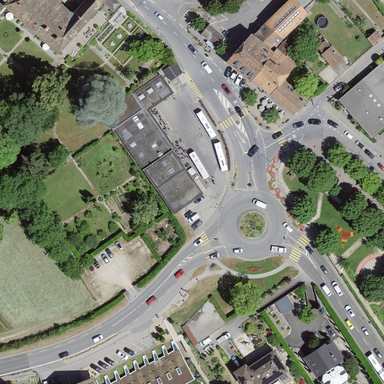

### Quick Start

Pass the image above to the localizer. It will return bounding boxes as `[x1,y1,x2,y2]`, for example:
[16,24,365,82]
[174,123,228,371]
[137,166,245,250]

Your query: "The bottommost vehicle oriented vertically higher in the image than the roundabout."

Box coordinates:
[214,142,226,171]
